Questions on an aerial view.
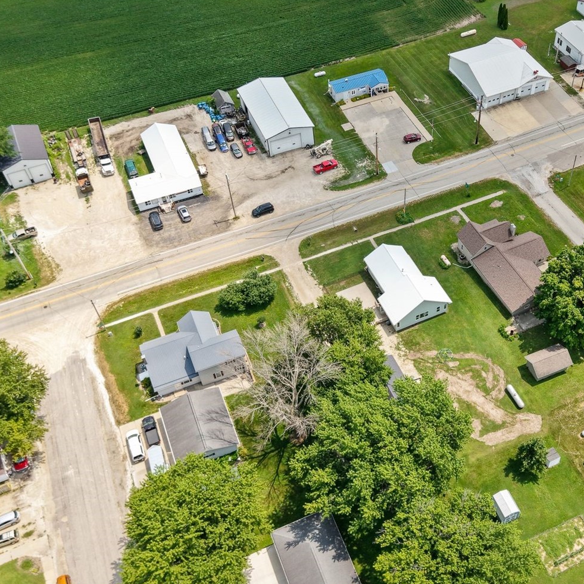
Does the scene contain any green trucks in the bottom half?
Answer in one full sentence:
No, I can find no green truck in the bottom half.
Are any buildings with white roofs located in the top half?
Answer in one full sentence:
Yes, a building with a white roof can be seen in the top half.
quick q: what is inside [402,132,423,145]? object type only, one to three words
vehicle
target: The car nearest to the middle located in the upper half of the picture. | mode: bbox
[251,201,276,218]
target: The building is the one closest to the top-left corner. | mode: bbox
[0,122,52,181]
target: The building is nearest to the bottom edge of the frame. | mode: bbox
[273,510,364,584]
